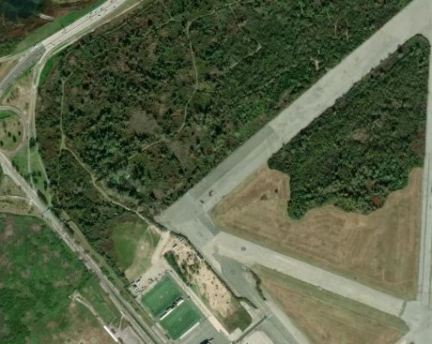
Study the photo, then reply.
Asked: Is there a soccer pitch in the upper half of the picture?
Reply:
No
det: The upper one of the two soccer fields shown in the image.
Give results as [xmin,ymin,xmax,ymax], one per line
[141,274,183,317]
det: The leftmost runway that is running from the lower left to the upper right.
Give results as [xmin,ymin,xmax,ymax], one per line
[188,126,278,208]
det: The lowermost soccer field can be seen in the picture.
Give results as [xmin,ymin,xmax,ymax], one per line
[161,299,201,340]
